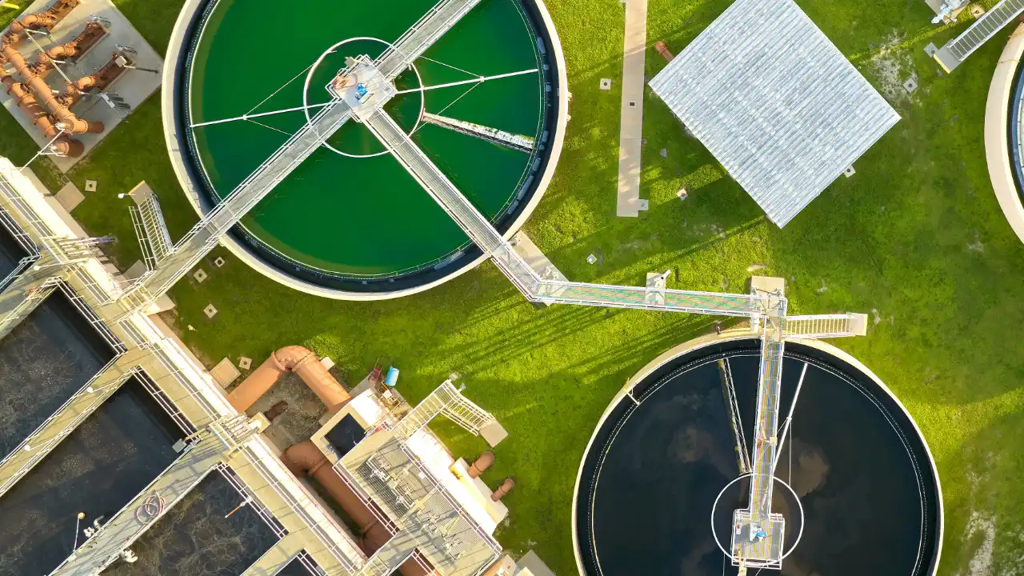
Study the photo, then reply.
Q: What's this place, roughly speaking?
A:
industrial area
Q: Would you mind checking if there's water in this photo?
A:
Yes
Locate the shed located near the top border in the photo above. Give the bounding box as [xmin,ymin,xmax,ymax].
[649,0,902,227]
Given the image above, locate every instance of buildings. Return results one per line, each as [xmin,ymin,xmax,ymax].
[649,0,902,227]
[310,389,510,576]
